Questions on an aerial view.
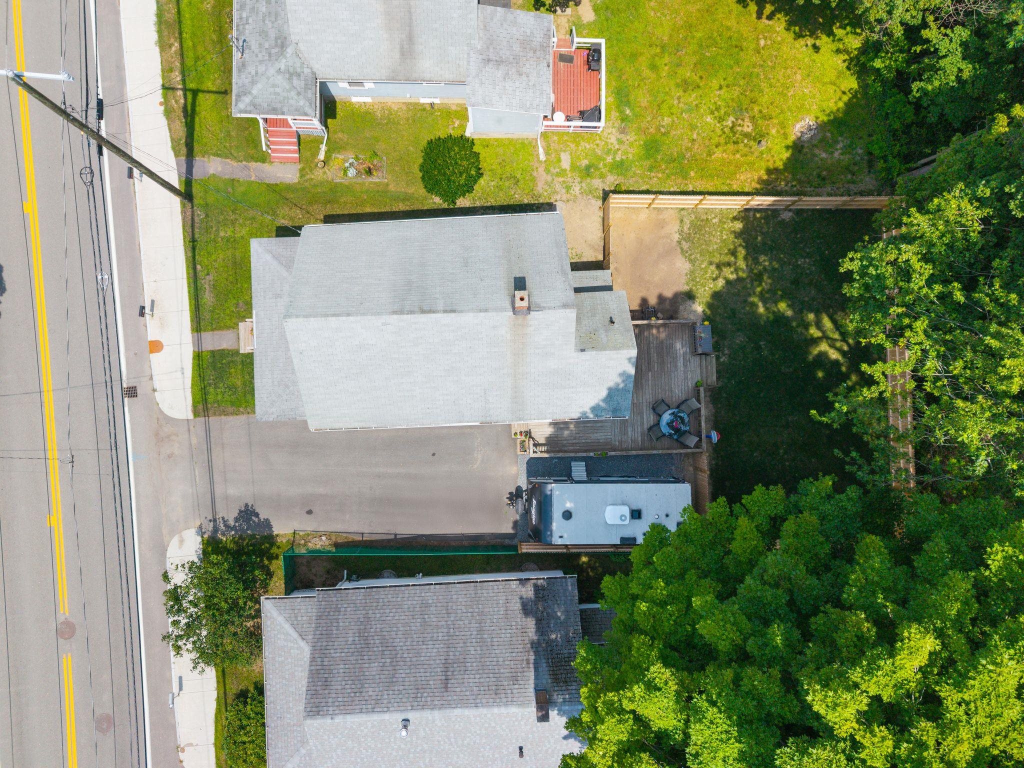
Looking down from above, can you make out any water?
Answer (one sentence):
No, there's no water in this view.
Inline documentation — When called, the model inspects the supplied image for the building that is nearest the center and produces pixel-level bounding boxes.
[249,210,636,433]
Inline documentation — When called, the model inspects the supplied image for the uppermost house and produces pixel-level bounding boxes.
[218,0,554,159]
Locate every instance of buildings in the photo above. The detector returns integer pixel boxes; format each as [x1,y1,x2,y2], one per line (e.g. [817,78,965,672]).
[249,210,636,433]
[261,570,630,768]
[218,0,554,159]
